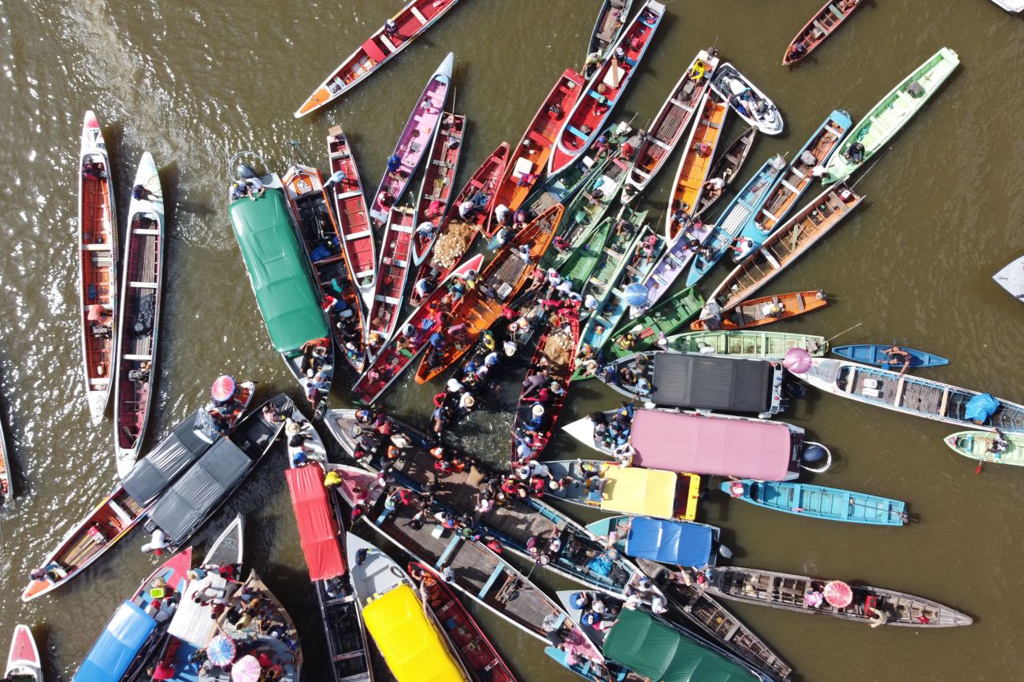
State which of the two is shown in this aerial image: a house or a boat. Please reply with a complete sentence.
The one in the frame is a boat.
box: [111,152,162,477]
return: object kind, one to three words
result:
boat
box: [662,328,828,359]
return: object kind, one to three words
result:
boat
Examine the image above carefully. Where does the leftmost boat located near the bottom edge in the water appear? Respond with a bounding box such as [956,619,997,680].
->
[7,622,49,682]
